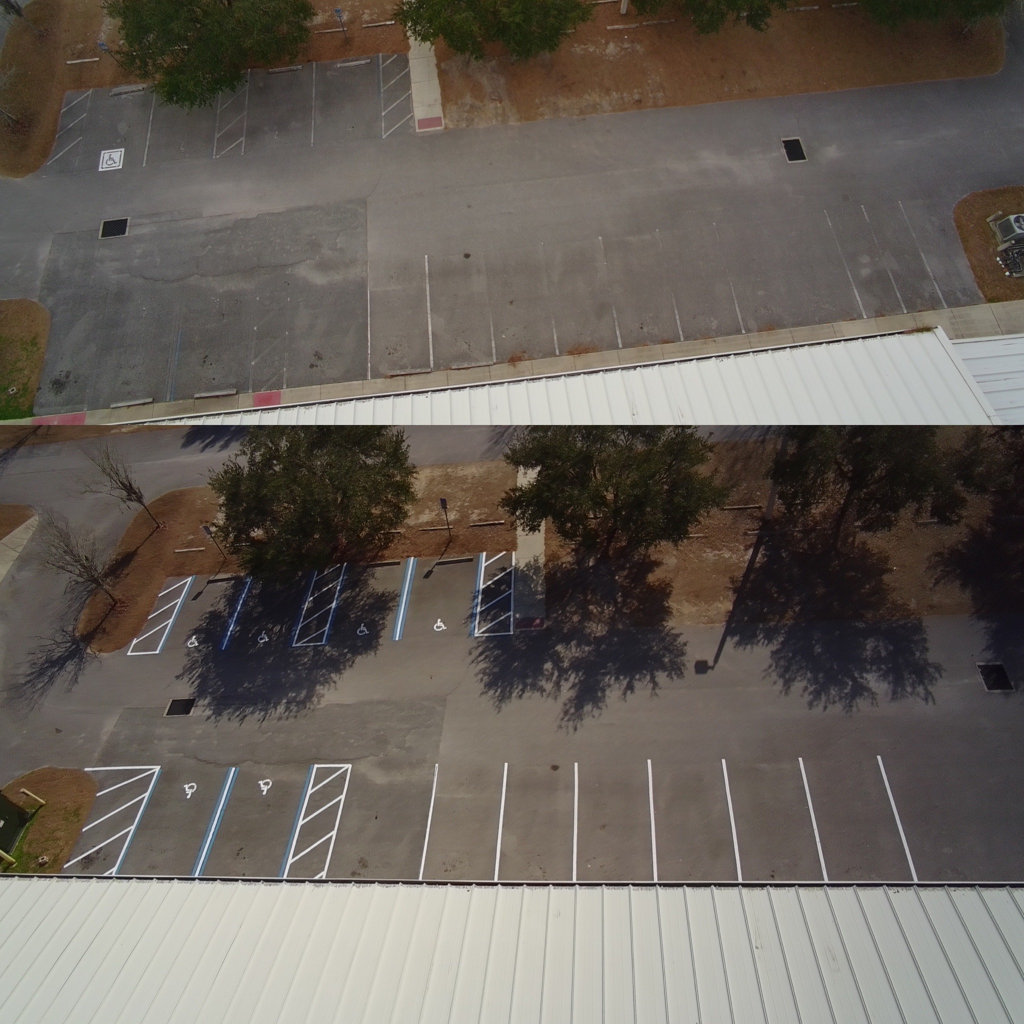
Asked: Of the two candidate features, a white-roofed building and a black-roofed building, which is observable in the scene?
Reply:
white-roofed building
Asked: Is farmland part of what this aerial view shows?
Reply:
No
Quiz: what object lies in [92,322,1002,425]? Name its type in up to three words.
building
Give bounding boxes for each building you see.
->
[0,873,1024,1024]
[92,322,1002,425]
